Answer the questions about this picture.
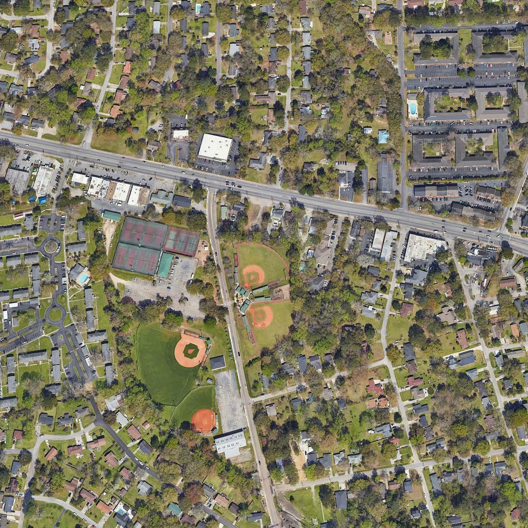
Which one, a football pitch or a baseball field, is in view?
baseball field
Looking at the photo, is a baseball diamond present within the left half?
Yes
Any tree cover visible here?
Yes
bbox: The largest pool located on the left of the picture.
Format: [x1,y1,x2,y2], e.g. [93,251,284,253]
[75,270,93,288]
